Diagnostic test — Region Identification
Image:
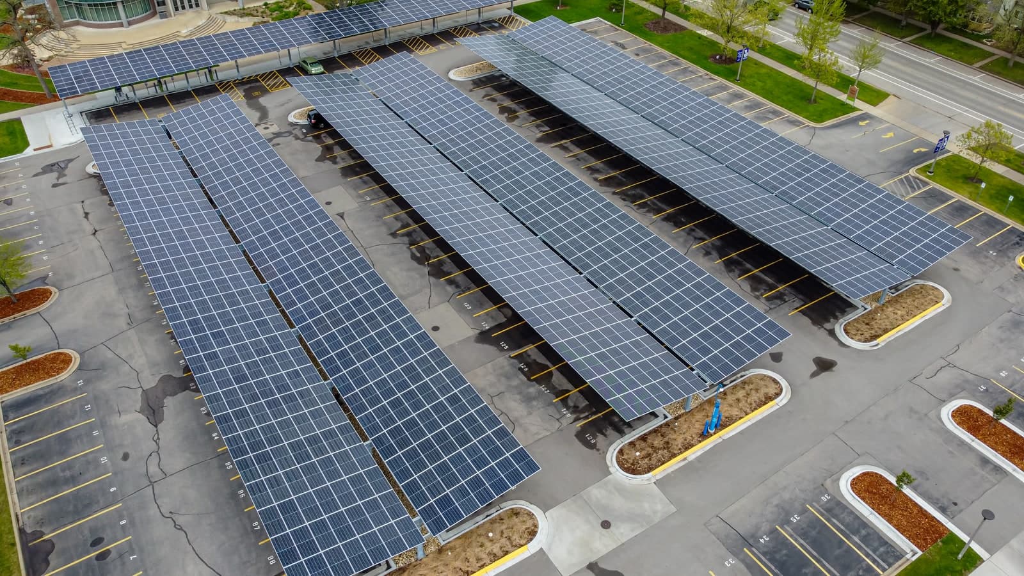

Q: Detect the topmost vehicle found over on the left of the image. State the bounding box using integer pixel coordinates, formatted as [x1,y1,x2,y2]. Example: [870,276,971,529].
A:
[297,56,323,75]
